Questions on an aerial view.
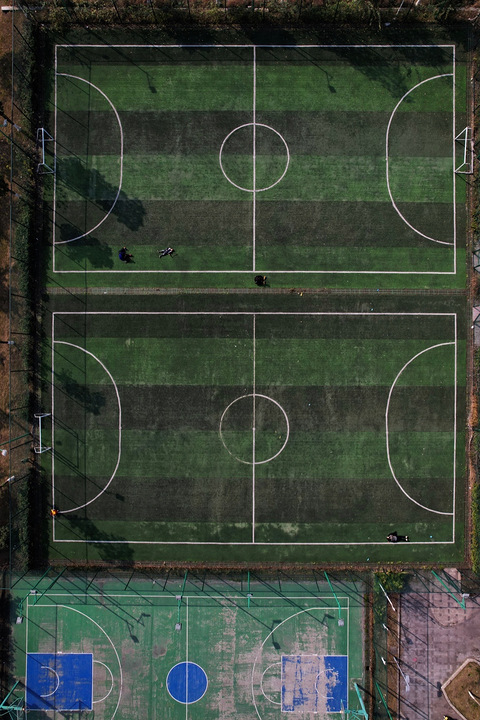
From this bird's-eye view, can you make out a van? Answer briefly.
No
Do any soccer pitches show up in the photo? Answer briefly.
Yes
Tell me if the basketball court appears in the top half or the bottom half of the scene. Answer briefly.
bottom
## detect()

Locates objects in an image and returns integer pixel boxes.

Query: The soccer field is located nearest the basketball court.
[41,294,466,561]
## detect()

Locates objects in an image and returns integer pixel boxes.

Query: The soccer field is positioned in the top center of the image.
[41,27,466,288]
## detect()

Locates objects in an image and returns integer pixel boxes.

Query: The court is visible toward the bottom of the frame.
[9,577,364,720]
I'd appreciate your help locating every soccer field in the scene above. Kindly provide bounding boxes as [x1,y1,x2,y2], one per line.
[41,27,466,288]
[41,294,466,561]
